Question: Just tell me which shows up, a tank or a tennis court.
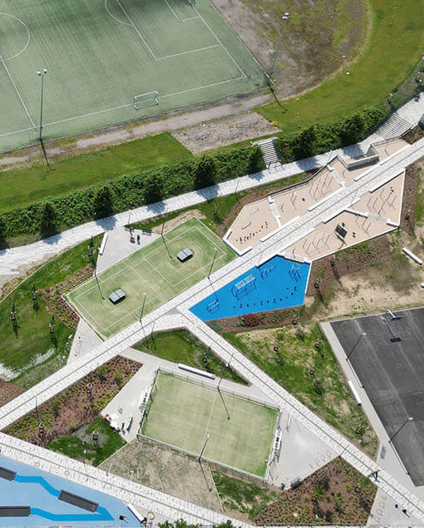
tennis court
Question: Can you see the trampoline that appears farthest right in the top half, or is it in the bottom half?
bottom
